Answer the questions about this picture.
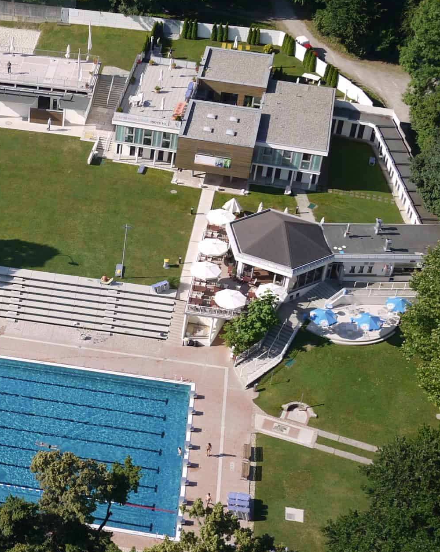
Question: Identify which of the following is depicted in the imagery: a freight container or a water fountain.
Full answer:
I can see a water fountain in this picture.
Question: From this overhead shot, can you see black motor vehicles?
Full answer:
No, the picture doesn't show any black motor vehicle.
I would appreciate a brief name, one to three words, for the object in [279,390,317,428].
fountain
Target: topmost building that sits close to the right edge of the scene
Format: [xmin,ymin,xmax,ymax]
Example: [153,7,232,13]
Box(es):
[330,91,440,223]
